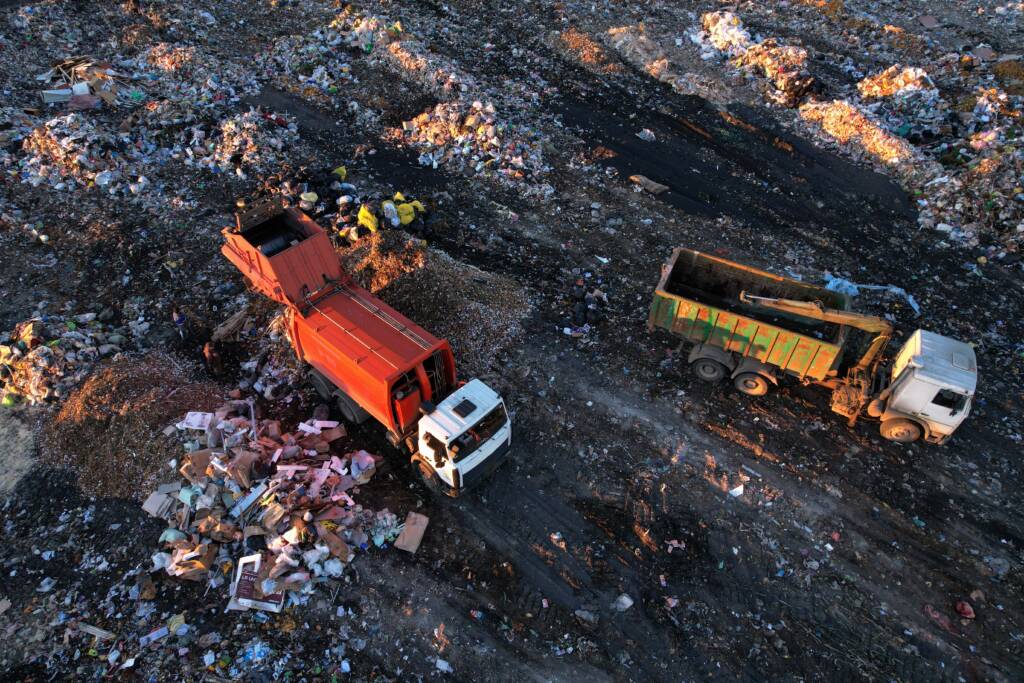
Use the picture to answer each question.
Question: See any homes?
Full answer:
No, the frame has no home in it.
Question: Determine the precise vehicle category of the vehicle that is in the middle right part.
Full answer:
The vehicle that is in the middle right part is a truck.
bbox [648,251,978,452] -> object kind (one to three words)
truck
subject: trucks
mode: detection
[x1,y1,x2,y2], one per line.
[218,198,515,498]
[648,251,978,452]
